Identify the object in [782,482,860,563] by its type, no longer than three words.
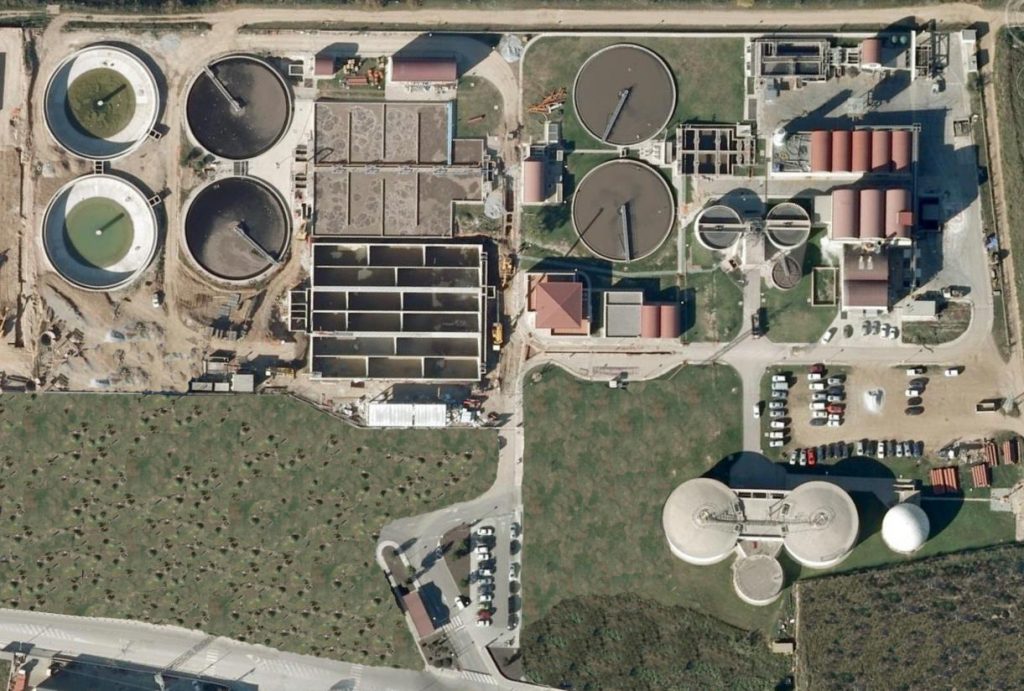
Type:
storage tank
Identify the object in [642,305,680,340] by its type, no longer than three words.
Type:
shed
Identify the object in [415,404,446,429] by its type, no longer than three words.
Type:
building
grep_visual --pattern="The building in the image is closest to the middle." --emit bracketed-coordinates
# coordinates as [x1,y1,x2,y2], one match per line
[526,274,591,340]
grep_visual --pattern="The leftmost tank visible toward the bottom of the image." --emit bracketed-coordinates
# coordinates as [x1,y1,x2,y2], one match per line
[661,480,740,563]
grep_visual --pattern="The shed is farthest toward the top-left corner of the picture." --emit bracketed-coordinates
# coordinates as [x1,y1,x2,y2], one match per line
[315,59,334,79]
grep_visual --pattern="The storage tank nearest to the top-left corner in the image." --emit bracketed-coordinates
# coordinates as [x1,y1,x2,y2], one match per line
[43,47,159,161]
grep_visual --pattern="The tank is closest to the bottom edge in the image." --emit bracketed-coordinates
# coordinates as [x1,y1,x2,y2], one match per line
[733,555,782,605]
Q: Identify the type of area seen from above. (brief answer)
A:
industrial area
